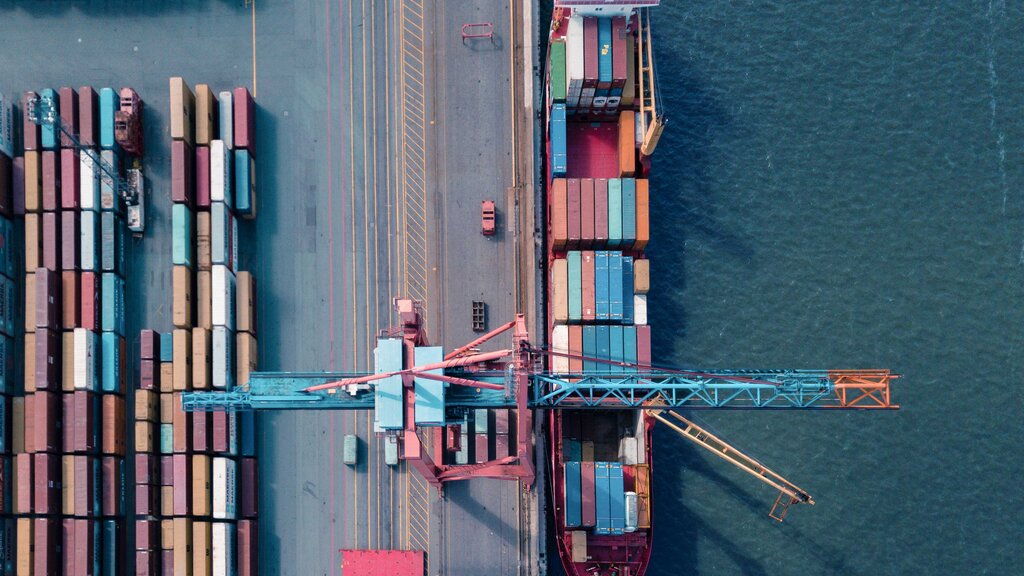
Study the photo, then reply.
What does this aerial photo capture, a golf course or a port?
port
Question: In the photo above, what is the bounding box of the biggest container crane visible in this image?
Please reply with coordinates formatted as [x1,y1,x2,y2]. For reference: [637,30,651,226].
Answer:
[181,298,900,497]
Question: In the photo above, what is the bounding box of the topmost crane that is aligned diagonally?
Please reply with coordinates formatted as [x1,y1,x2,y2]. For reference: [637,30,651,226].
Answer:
[28,97,150,238]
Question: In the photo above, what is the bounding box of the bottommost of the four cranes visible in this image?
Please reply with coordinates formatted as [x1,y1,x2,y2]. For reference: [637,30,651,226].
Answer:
[640,402,816,525]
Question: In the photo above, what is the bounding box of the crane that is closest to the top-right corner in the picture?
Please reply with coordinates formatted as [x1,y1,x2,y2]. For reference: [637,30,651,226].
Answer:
[634,2,668,179]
